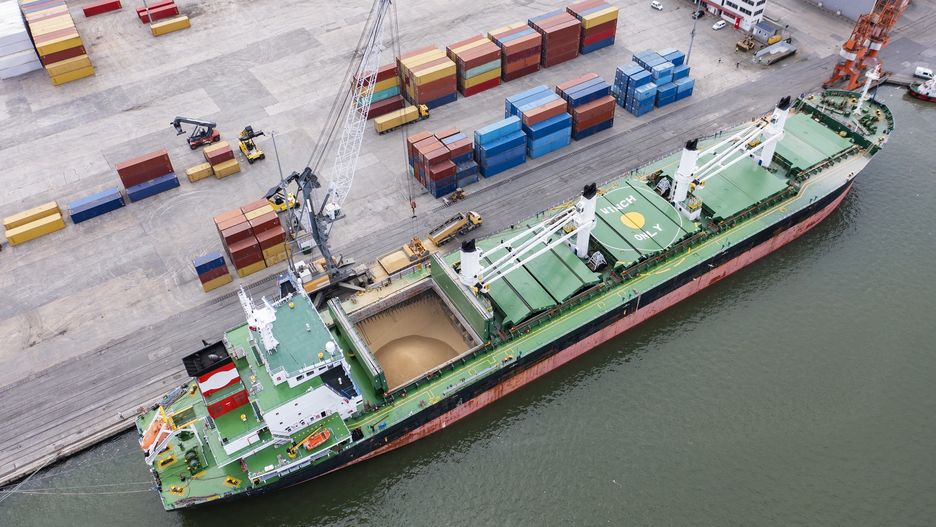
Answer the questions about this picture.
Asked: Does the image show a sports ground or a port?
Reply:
port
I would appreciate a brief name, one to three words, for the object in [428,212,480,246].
truck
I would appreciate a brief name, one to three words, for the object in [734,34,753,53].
work vehicle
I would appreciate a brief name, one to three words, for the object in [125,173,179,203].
shipping container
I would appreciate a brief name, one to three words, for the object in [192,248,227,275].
shipping container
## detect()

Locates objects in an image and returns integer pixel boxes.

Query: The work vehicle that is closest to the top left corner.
[170,122,223,149]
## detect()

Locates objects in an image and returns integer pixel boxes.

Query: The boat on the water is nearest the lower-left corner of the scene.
[134,414,165,444]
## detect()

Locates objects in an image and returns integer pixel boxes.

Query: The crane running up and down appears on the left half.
[287,0,412,315]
